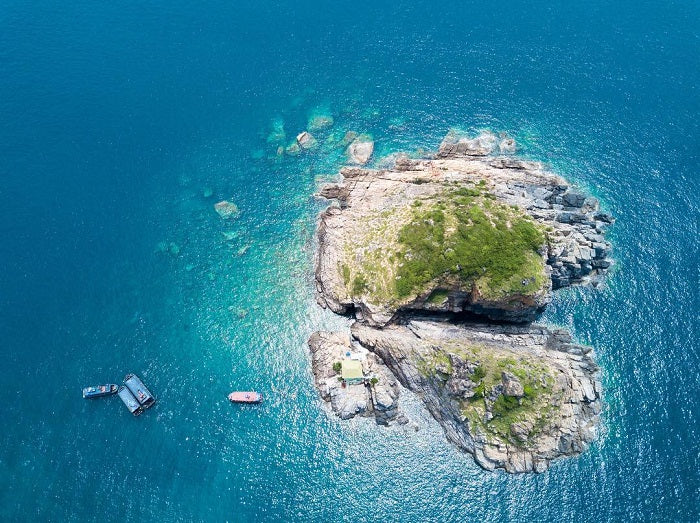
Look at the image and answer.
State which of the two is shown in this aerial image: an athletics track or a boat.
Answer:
boat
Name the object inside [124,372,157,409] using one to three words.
boat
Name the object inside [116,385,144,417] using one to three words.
boat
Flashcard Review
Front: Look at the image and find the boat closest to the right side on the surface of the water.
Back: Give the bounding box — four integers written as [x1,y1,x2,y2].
[228,390,264,404]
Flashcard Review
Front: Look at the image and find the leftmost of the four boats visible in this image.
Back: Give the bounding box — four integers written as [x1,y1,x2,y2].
[82,385,118,399]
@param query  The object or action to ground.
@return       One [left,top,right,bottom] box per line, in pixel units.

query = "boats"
[124,372,157,409]
[82,385,118,399]
[116,385,144,417]
[228,390,264,404]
